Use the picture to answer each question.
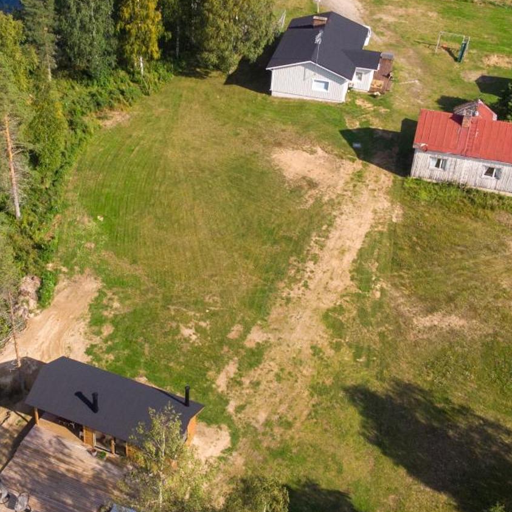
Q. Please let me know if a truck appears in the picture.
No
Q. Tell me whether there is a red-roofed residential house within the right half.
Yes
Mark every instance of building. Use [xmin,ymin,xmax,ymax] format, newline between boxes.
[266,11,383,103]
[411,97,512,194]
[24,356,208,480]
